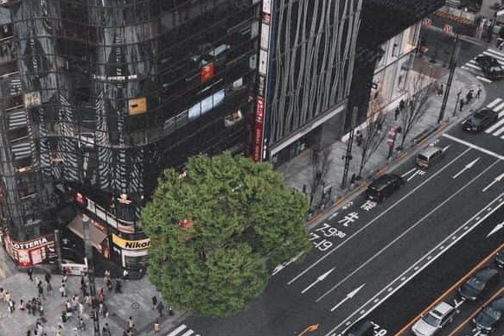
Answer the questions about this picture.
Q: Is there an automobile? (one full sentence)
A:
Yes, the image includes an automobile.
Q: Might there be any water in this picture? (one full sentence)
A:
No, there is no water in the image.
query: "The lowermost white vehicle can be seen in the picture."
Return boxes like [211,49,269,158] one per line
[409,301,458,336]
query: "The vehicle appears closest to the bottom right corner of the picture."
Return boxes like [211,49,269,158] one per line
[464,295,504,336]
